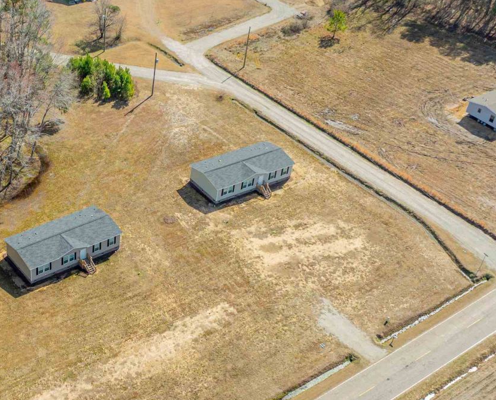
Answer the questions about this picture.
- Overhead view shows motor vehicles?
No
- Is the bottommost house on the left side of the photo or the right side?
left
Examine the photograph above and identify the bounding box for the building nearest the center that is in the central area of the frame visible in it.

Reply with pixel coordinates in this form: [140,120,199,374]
[190,142,295,202]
